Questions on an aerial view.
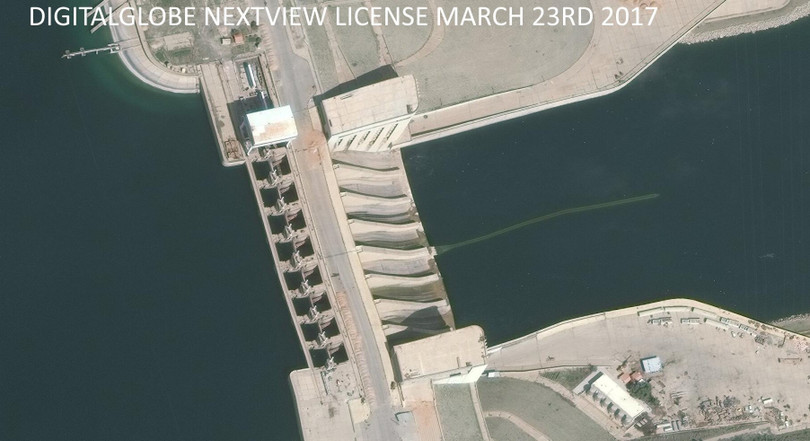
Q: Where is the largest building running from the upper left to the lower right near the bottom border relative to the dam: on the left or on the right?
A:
right of it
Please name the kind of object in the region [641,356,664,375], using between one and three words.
shed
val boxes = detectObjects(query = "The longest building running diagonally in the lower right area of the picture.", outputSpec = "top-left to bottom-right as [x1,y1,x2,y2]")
[588,373,644,423]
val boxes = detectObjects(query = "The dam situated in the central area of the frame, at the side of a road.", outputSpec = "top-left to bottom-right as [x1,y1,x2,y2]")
[201,50,454,441]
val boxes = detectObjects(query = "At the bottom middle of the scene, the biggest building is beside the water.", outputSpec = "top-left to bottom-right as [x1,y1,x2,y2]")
[390,325,489,387]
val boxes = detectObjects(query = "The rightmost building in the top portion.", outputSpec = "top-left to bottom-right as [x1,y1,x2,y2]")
[320,75,421,154]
